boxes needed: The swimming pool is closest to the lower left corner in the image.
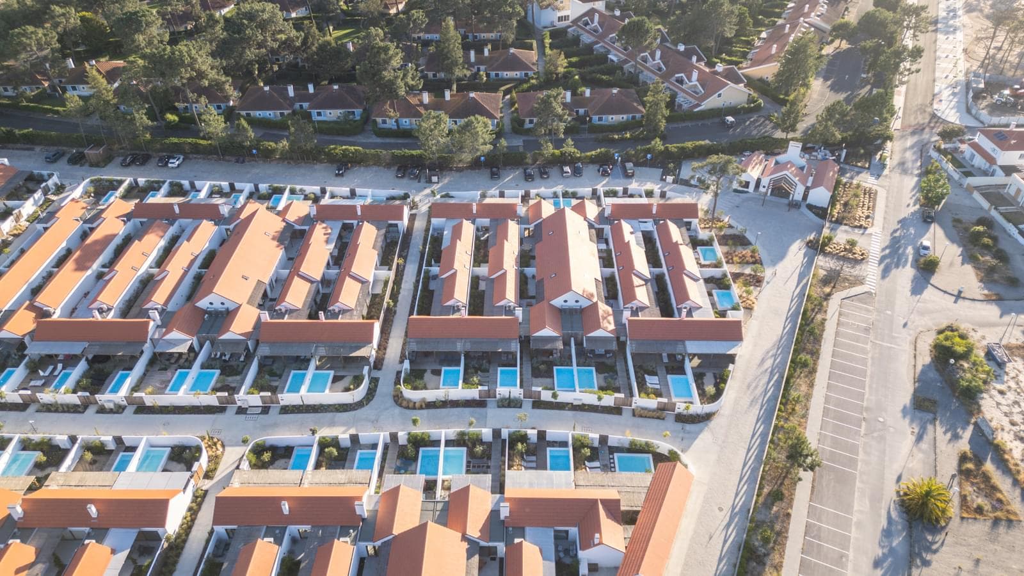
[1,450,38,476]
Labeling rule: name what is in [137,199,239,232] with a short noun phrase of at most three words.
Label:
house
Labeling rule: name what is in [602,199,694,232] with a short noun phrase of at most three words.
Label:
house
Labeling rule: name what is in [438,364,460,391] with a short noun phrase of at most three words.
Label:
swimming pool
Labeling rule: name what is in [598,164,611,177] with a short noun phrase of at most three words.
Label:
vehicle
